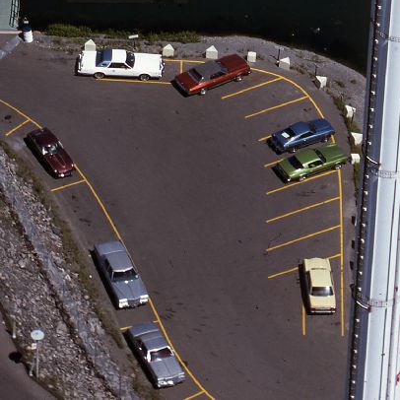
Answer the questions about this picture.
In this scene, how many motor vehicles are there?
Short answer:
8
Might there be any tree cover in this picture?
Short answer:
No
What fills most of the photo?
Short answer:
paved ground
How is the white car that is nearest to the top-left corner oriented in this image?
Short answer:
from left to right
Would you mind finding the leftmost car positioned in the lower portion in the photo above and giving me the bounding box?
[93,240,146,307]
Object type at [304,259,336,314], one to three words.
car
